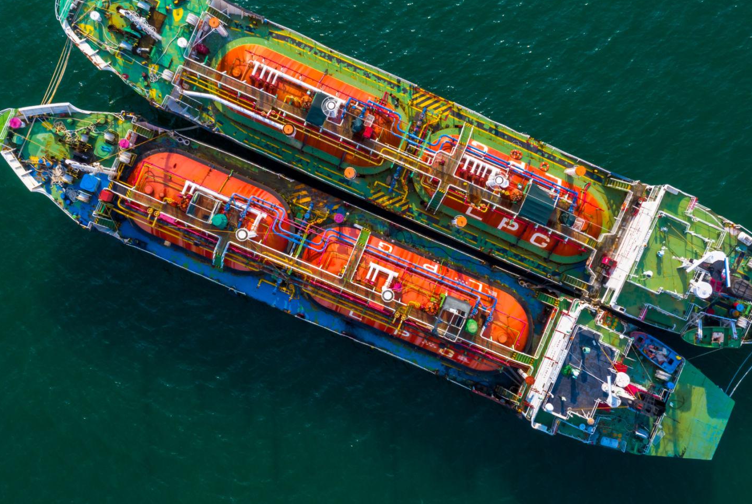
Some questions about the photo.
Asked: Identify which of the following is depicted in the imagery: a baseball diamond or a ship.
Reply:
ship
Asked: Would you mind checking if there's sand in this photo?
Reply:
No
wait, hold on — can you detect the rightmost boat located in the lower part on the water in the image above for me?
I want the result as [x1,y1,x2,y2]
[682,327,743,349]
